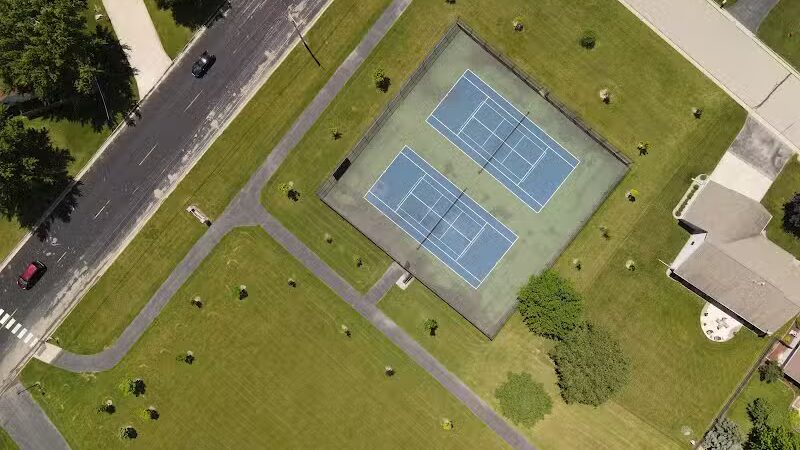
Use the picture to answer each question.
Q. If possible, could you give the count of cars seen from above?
2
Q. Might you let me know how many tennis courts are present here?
2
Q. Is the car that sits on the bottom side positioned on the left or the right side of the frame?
left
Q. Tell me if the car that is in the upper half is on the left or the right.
left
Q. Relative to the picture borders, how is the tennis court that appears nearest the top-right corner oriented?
at an angle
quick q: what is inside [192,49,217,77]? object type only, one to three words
car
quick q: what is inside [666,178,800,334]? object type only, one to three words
house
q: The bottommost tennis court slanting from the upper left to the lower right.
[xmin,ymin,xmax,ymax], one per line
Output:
[363,145,518,289]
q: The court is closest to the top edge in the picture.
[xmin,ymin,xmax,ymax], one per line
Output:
[426,69,580,213]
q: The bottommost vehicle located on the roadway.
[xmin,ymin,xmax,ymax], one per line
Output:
[19,259,45,287]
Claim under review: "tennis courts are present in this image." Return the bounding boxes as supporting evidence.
[426,69,580,213]
[363,145,518,289]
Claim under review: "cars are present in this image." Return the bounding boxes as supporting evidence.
[192,49,217,77]
[19,259,45,287]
